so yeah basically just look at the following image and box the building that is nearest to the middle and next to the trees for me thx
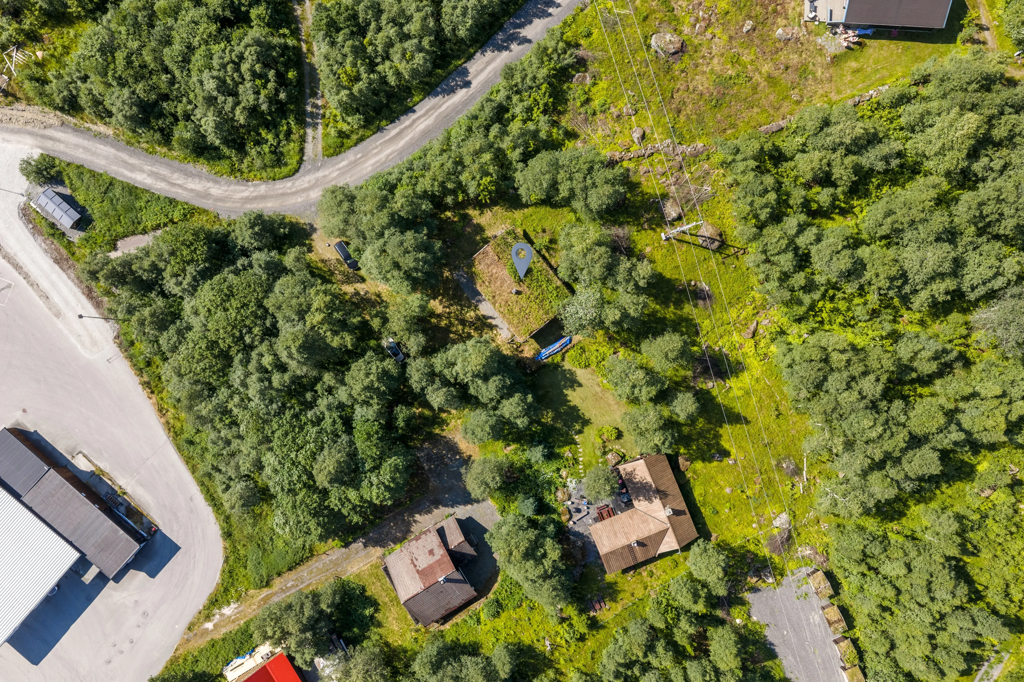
[461,225,565,343]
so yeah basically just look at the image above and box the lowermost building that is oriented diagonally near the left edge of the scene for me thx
[0,427,151,579]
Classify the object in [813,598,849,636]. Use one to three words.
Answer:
building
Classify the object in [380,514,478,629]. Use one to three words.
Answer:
house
